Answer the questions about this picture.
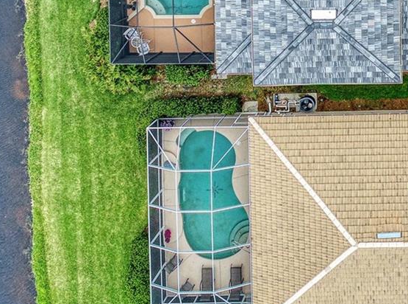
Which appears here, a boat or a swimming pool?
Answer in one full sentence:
It is a swimming pool that can be seen here.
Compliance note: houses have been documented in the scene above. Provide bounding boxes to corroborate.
[211,0,408,89]
[246,111,408,304]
